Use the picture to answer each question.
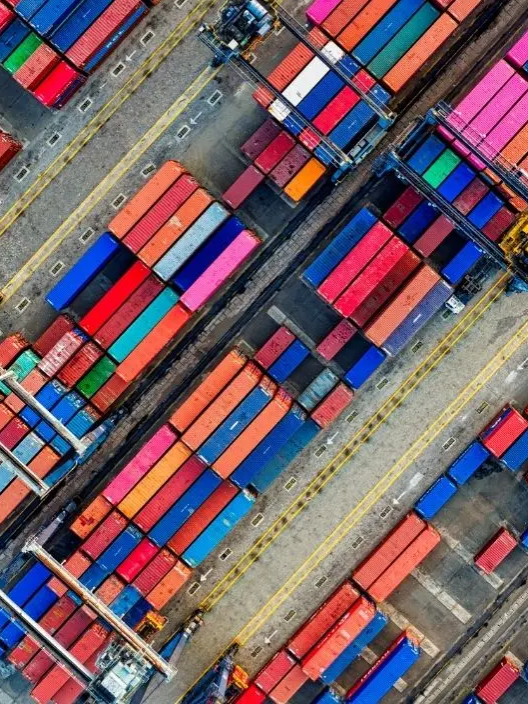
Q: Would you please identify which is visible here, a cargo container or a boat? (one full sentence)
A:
This aerial view contains a cargo container.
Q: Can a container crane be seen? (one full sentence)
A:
Yes, you can see a container crane in this photo.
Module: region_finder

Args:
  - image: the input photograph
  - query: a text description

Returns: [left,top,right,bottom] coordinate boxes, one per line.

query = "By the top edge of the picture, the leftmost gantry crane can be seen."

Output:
[193,0,402,176]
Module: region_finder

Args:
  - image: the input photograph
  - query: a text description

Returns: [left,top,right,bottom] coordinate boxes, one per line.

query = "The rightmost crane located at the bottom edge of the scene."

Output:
[171,644,251,704]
